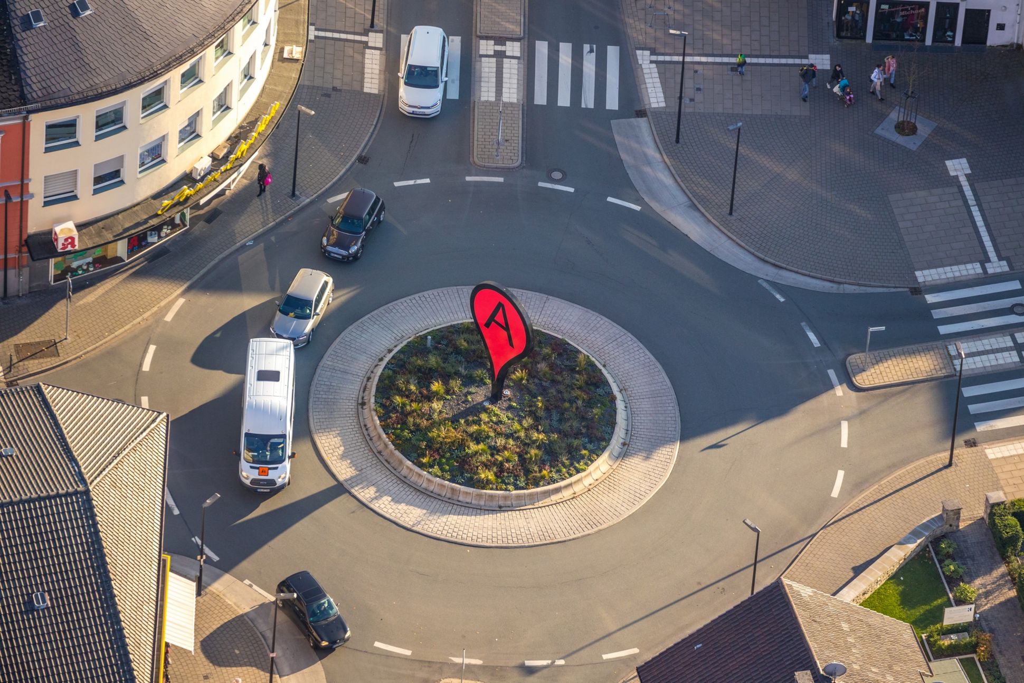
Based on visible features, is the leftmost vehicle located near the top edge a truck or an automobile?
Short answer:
automobile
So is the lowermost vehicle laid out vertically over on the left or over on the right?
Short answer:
left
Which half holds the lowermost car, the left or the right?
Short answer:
left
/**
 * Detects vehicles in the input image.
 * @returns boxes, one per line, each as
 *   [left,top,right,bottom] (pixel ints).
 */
[270,265,333,351]
[235,338,297,491]
[281,569,353,650]
[396,26,449,118]
[320,185,384,262]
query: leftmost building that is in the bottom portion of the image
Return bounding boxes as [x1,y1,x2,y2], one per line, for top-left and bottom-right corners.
[0,379,172,683]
